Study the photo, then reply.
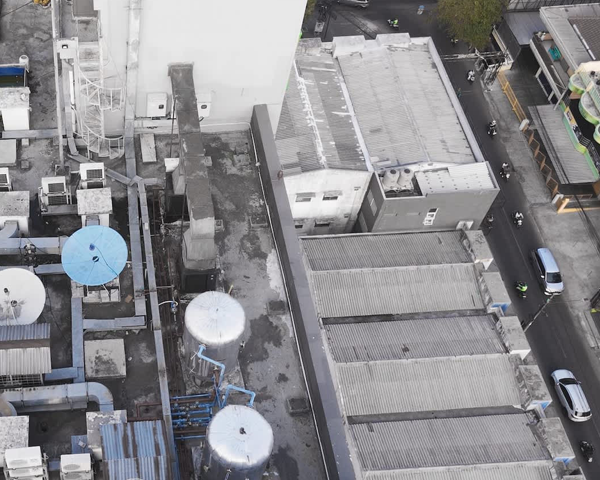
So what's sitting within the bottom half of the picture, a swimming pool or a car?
car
